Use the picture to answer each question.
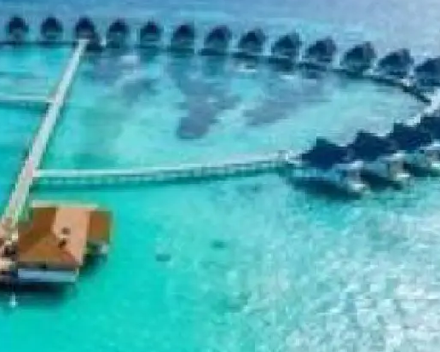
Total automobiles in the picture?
0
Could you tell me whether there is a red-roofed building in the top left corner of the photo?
No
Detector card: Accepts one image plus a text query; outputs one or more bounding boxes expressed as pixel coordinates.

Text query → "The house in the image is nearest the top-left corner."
[1,17,32,43]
